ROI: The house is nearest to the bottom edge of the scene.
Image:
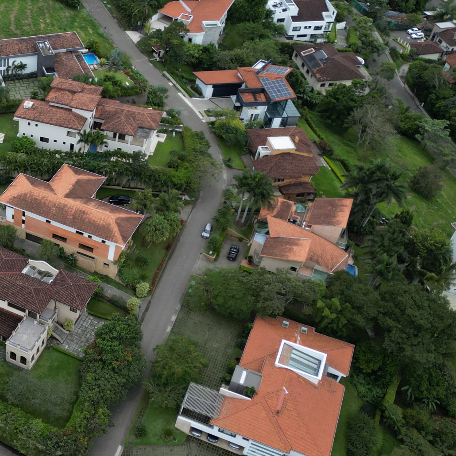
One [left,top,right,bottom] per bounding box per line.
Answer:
[174,312,356,456]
